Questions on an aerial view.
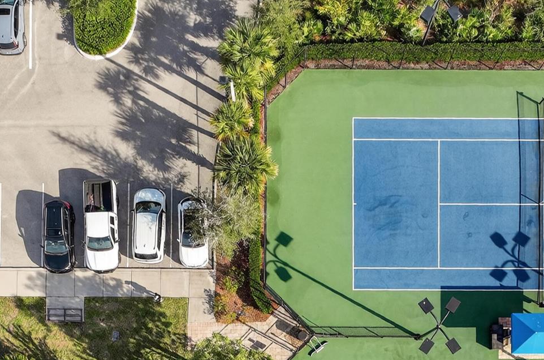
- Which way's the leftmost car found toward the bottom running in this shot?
vertically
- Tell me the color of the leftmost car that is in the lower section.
black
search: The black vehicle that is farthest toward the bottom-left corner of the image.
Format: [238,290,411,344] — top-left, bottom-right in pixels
[38,198,76,277]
